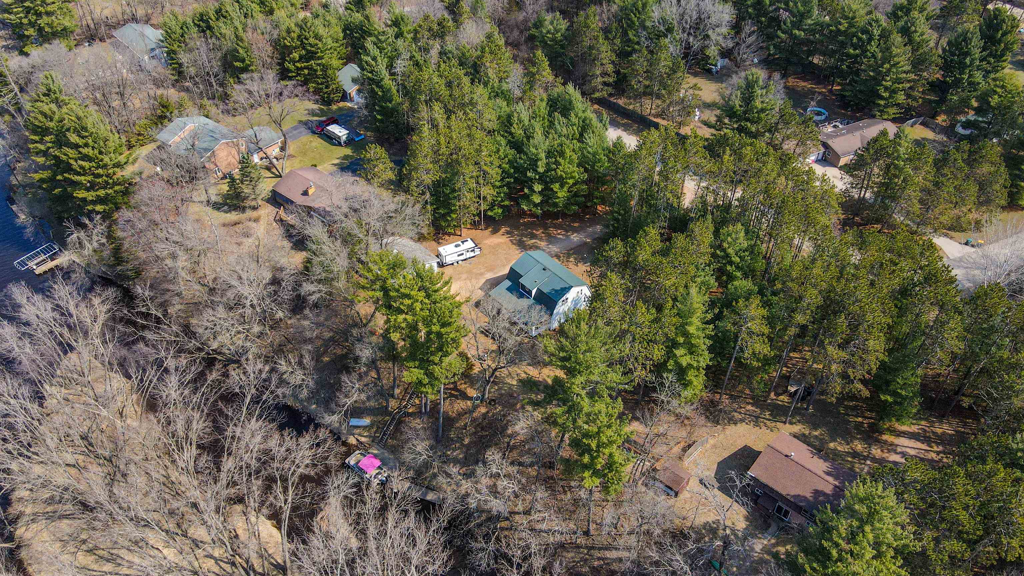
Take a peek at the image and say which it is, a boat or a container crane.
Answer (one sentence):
This aerial view contains a boat.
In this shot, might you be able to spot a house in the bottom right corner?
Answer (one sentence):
Yes, looking in the bottom right corner, one can make out a house.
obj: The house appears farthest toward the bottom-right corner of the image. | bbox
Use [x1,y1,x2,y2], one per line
[742,430,870,545]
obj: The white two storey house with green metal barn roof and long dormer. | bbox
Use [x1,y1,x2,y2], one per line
[489,250,591,336]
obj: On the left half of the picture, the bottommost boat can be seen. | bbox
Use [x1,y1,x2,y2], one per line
[347,451,388,487]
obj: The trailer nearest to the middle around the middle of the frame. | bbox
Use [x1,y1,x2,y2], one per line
[439,239,482,266]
